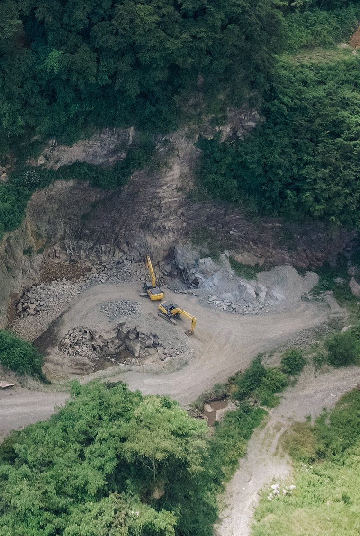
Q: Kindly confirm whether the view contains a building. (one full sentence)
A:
No, no building is visible in the view.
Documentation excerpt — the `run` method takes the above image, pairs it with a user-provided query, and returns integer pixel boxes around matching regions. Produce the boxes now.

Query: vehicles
[155,300,200,332]
[134,247,164,300]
